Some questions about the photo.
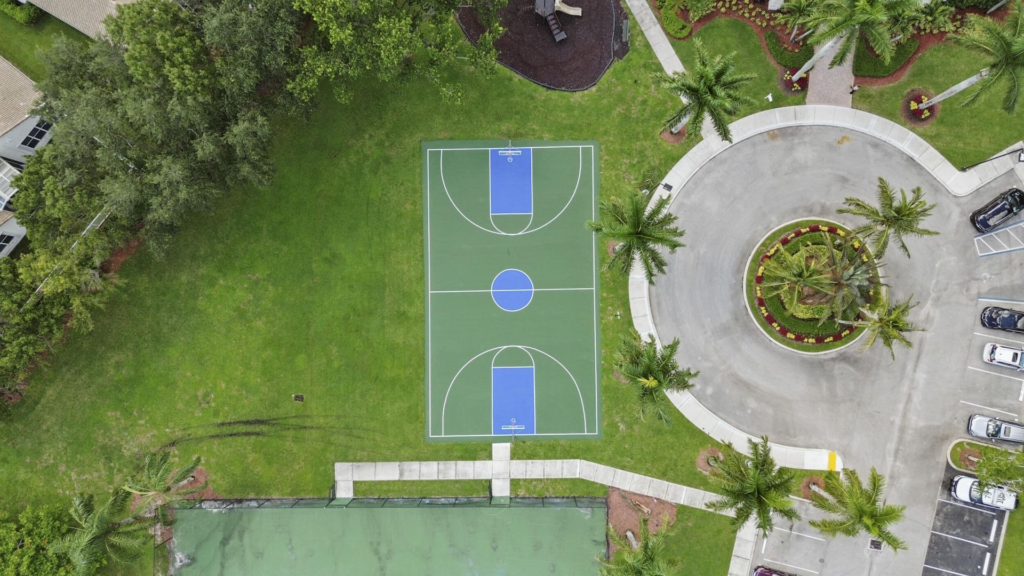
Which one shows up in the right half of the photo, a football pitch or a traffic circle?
traffic circle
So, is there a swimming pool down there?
No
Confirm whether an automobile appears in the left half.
No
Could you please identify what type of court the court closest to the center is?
basketball court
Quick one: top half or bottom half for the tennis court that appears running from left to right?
bottom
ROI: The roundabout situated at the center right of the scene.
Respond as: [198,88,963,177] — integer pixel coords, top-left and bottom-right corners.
[654,131,963,440]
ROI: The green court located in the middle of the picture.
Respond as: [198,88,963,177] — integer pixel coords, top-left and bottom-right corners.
[422,140,602,442]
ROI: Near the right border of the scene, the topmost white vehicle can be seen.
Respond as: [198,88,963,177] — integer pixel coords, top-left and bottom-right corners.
[982,343,1024,374]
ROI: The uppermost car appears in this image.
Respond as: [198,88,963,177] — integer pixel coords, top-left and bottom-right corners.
[973,189,1024,232]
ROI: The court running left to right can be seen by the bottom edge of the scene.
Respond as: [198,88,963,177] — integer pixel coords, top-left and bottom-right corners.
[171,496,606,576]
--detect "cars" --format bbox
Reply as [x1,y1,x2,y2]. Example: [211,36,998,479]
[968,417,1024,448]
[973,189,1024,232]
[954,475,1019,510]
[982,343,1024,374]
[981,306,1024,333]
